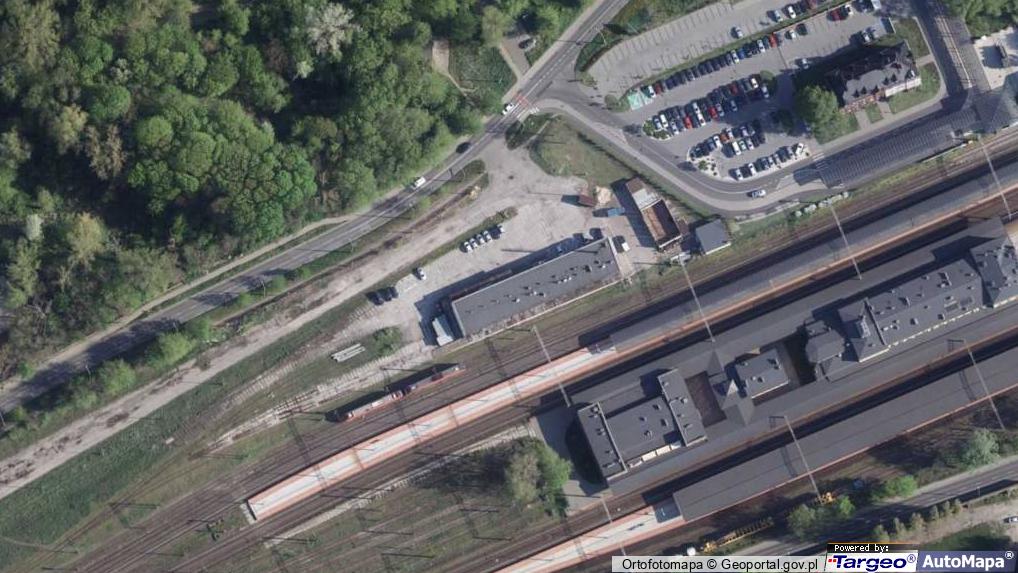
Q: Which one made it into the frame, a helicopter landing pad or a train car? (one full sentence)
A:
This aerial view contains a train car.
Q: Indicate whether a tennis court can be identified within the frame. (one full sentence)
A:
No, the picture doesn't show any tennis court.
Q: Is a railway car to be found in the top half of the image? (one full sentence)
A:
No, no railway car is visible in the top half of the image.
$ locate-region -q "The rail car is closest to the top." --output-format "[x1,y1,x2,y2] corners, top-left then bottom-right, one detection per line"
[404,362,468,395]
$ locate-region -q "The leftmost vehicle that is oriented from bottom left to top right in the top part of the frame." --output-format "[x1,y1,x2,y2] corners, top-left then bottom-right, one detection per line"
[412,176,426,189]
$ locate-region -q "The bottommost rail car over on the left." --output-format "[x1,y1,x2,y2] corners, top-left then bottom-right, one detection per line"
[343,389,406,423]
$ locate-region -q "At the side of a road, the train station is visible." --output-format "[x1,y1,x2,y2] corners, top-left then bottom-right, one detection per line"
[247,162,1018,573]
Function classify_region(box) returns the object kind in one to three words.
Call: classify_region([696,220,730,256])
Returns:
shed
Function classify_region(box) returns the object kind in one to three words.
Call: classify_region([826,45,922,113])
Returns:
house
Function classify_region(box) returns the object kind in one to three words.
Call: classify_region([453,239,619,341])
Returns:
building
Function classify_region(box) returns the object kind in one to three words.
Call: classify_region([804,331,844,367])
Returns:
building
